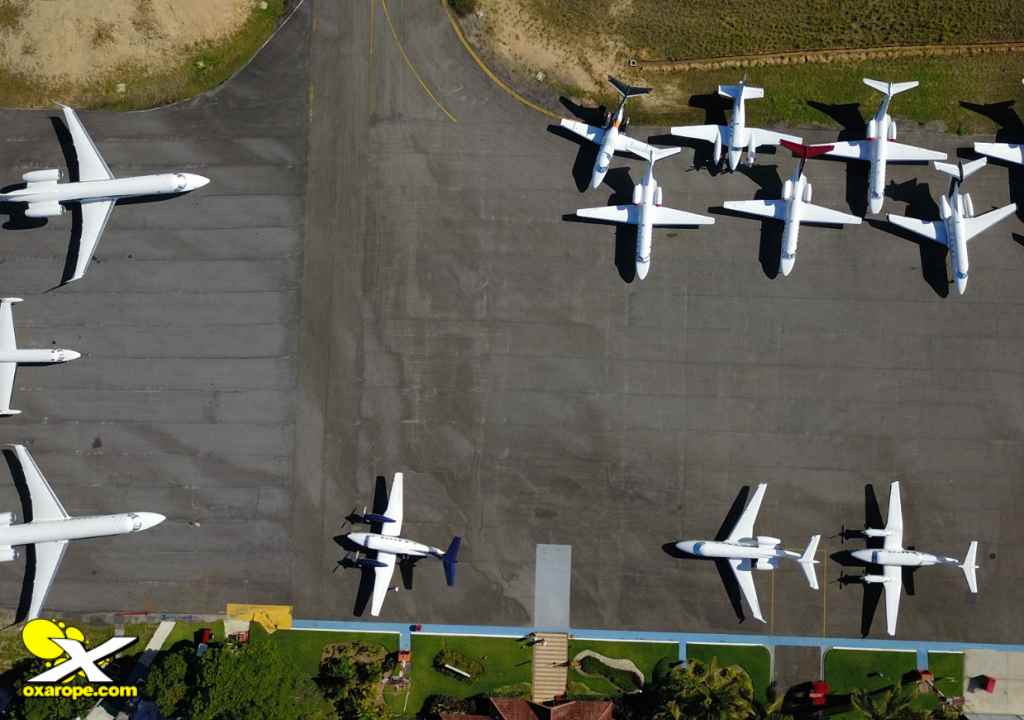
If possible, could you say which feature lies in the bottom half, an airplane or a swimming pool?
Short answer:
airplane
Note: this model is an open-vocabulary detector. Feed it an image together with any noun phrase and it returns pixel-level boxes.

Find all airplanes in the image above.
[851,481,979,634]
[725,142,861,276]
[675,483,821,623]
[810,79,946,213]
[0,446,166,625]
[348,473,461,614]
[0,101,211,280]
[577,147,714,280]
[671,74,802,170]
[0,297,81,414]
[559,75,663,188]
[889,158,1017,294]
